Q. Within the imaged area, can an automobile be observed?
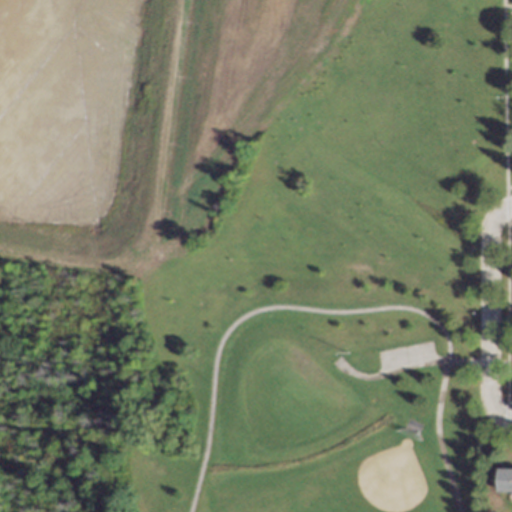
No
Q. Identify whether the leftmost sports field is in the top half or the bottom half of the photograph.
bottom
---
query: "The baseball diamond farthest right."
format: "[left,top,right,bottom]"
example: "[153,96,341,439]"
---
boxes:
[358,438,428,512]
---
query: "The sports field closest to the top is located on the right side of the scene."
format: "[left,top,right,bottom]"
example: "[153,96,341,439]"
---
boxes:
[245,337,372,447]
